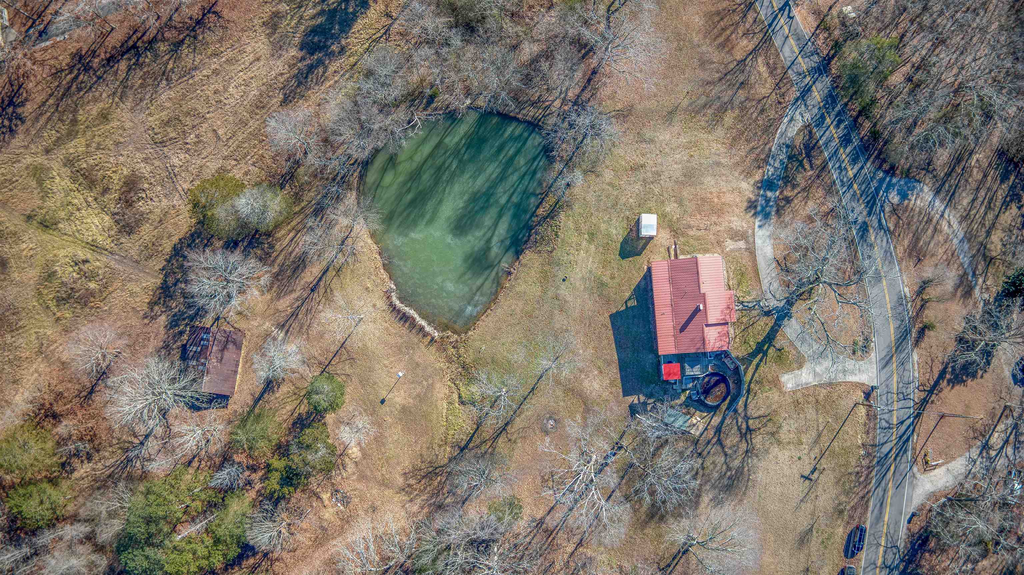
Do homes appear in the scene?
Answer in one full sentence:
Yes, there is a home in the image.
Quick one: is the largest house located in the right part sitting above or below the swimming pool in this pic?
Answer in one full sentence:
In the image, the largest house located in the right part sits above the swimming pool.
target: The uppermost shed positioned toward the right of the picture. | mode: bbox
[639,214,657,236]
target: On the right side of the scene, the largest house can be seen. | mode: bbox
[646,256,737,355]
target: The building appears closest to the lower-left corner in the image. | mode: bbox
[182,325,251,395]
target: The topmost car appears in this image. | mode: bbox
[850,524,869,553]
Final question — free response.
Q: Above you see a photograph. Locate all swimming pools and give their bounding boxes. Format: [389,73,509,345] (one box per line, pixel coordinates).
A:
[697,371,732,405]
